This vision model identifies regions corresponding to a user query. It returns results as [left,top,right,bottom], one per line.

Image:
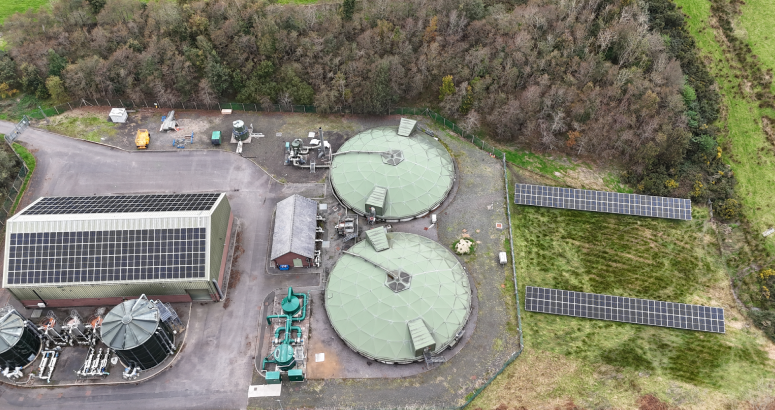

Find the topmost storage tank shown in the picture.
[328,119,455,224]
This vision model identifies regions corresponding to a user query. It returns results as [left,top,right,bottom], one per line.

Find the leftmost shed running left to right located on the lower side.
[2,191,232,308]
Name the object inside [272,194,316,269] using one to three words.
shed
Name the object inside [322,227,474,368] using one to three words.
storage tank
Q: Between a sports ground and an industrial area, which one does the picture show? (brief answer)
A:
industrial area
